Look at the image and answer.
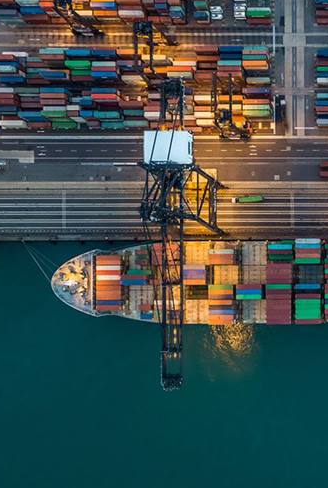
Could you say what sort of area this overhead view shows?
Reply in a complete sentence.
This image shows a port.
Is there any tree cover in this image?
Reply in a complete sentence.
No, tree cover can't be seen anywhere here.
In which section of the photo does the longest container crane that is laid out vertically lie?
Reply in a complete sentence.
Look in the center portion of the view to spot the longest container crane that is laid out vertically.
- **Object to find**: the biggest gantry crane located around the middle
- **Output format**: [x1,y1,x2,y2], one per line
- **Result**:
[134,77,228,390]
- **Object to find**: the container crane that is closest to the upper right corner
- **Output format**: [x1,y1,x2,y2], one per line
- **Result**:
[212,75,246,135]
